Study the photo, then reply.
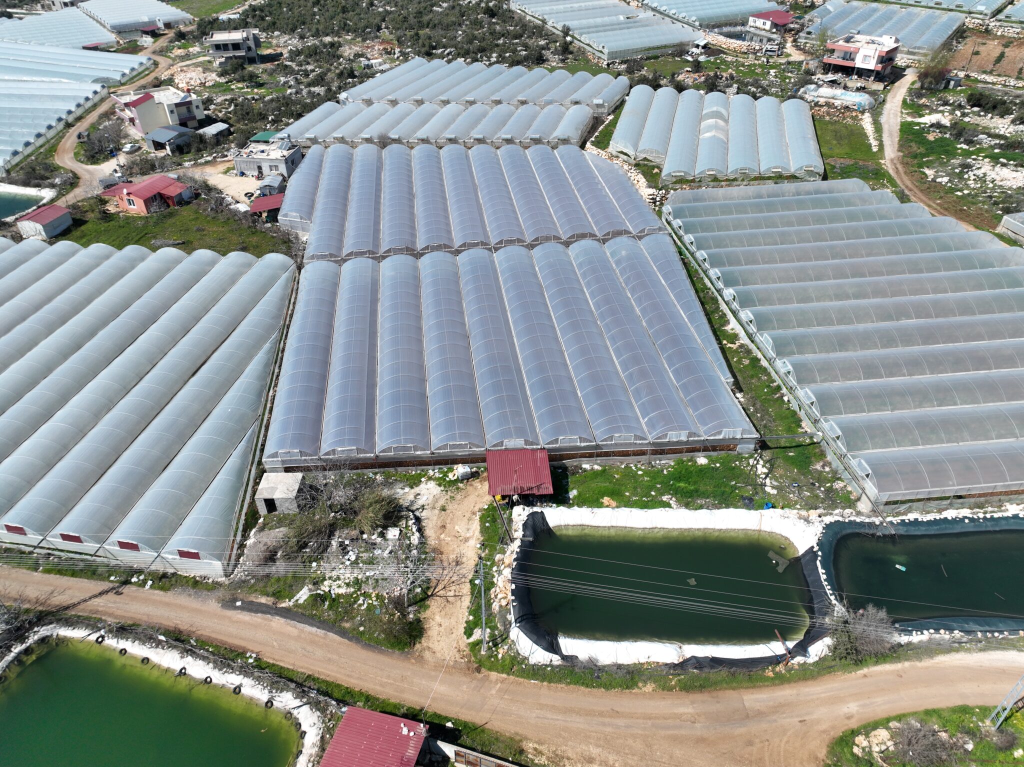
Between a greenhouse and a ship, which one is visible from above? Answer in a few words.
greenhouse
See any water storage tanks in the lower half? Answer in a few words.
No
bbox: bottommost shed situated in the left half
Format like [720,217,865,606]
[319,706,431,767]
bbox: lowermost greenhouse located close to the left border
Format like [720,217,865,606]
[0,233,298,588]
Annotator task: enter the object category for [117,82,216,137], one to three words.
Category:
house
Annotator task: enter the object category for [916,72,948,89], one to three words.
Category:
shed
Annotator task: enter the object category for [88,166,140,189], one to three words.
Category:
truck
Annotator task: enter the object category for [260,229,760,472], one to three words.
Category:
greenhouse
